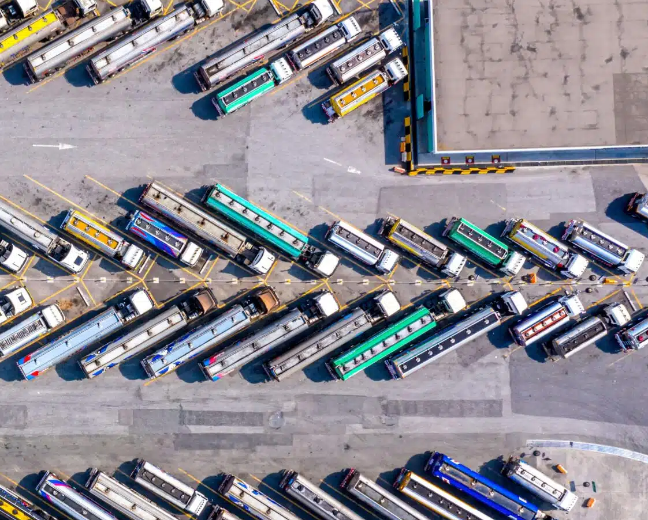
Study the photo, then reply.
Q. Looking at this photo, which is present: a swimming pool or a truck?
truck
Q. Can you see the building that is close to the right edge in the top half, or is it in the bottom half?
top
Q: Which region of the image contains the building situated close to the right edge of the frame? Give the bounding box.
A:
[414,0,648,156]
